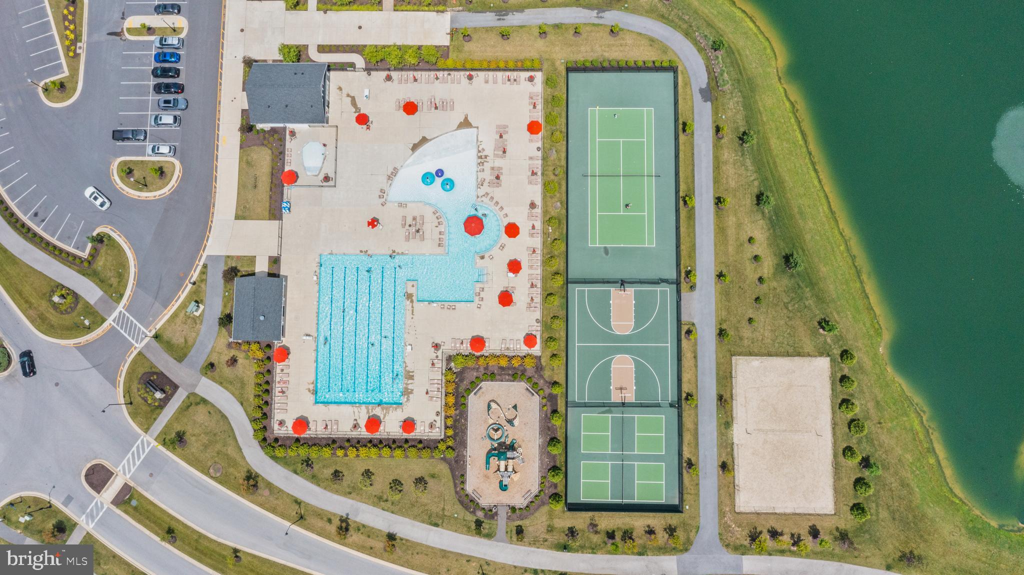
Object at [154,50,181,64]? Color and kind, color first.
blue car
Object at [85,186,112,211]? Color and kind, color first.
white car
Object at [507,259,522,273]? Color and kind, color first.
red umbrella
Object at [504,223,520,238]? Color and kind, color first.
red umbrella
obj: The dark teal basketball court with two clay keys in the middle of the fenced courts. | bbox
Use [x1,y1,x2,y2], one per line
[567,284,678,407]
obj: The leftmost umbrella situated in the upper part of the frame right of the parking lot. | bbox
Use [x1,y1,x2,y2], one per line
[282,170,297,185]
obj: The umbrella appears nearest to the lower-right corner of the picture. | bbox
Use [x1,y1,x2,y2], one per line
[523,334,538,349]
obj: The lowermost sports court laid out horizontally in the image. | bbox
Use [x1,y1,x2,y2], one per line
[567,458,679,507]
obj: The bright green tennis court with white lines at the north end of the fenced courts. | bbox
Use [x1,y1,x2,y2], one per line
[568,71,677,282]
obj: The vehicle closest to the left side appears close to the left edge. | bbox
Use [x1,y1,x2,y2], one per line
[19,349,37,378]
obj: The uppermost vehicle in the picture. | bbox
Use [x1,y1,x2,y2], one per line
[154,2,182,16]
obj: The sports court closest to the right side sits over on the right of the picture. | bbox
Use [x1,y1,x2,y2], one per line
[732,356,835,514]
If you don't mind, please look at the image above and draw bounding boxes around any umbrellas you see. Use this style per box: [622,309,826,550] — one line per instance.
[356,113,369,126]
[282,170,297,185]
[292,418,308,434]
[504,223,520,238]
[507,259,522,273]
[367,218,378,229]
[274,348,289,362]
[523,334,538,349]
[403,101,417,116]
[527,121,542,135]
[498,291,514,306]
[365,417,381,434]
[463,216,484,236]
[401,420,416,434]
[469,336,486,353]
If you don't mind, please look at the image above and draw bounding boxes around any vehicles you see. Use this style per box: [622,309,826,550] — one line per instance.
[154,2,182,16]
[154,81,185,95]
[148,144,176,157]
[111,128,149,142]
[158,97,189,111]
[85,186,112,211]
[154,35,184,50]
[152,65,181,79]
[19,349,37,378]
[154,50,181,64]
